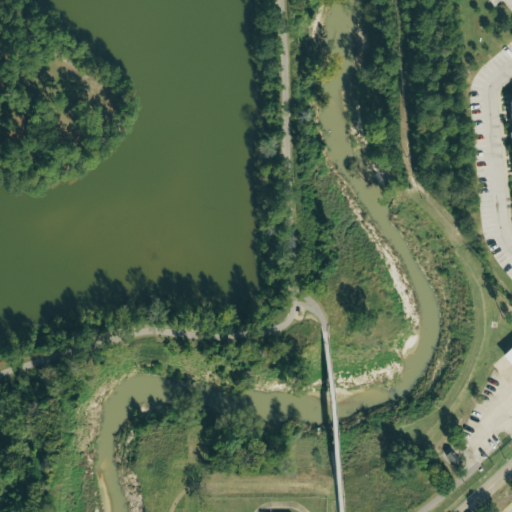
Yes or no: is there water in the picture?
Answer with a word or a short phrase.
Yes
